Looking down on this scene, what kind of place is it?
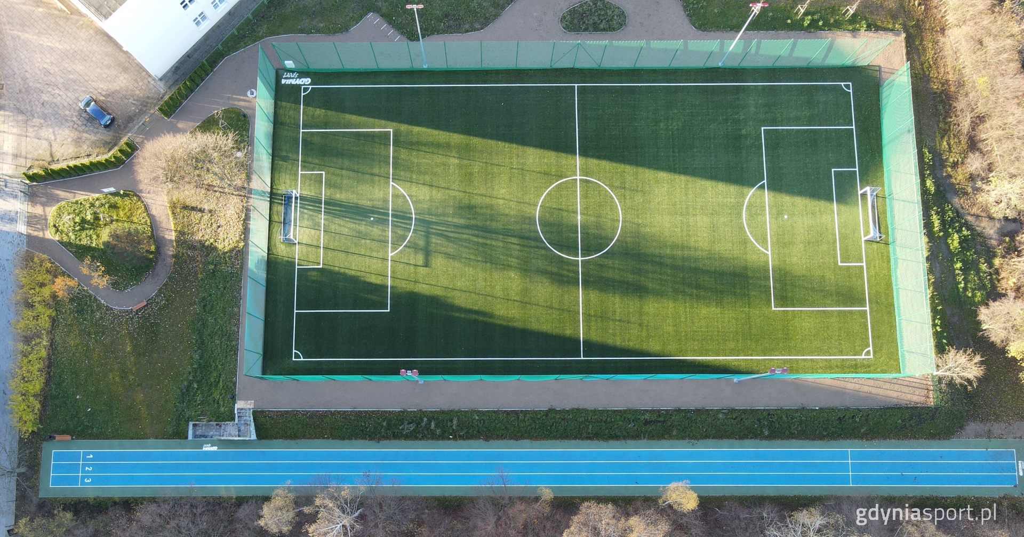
sports ground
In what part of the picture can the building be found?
top left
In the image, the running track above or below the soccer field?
below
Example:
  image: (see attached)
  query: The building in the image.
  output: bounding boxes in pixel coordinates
[72,0,239,78]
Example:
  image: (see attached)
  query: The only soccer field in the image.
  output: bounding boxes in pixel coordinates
[263,66,897,376]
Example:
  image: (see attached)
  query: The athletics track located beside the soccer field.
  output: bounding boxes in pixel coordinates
[37,439,1024,500]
